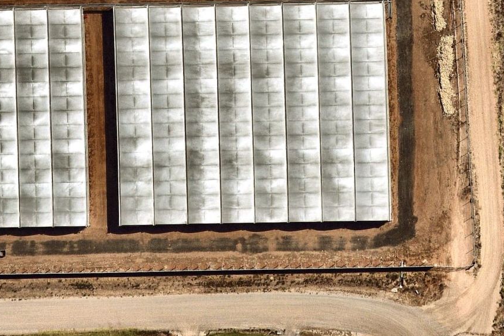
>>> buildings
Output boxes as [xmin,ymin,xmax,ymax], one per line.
[0,7,88,229]
[114,2,392,227]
